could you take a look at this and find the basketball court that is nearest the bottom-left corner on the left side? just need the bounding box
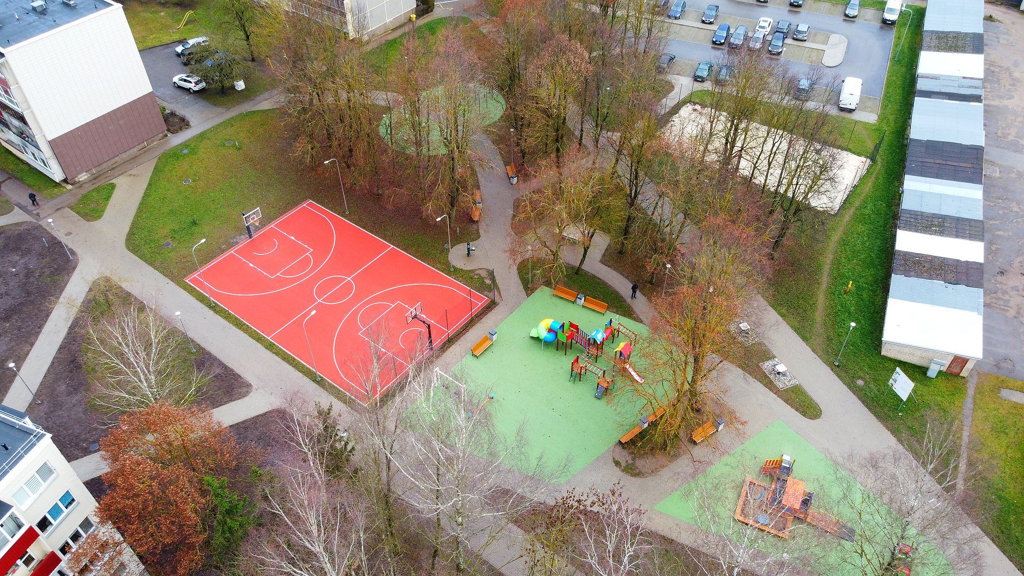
[179,196,493,409]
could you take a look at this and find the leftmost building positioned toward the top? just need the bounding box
[0,0,171,187]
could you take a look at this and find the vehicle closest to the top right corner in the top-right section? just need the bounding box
[882,0,903,24]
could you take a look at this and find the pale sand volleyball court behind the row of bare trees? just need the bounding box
[665,103,871,213]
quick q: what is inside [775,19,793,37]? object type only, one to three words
car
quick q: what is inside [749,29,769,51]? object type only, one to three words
car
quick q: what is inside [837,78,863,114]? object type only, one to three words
vehicle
